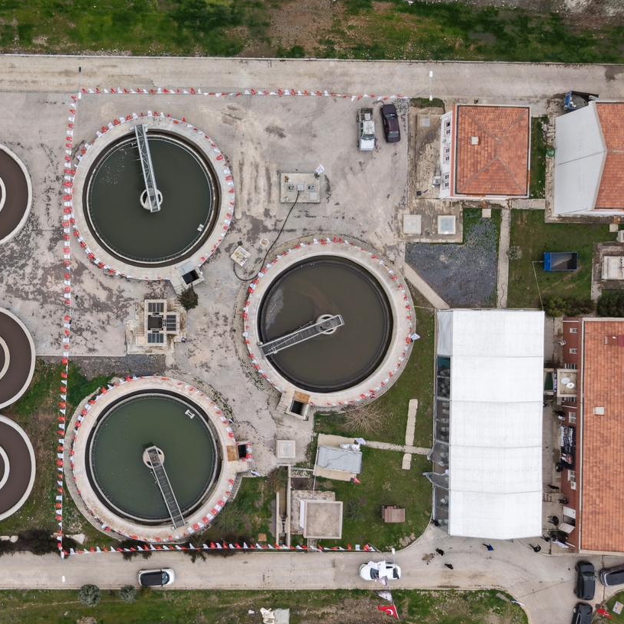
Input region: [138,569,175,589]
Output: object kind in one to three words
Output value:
car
